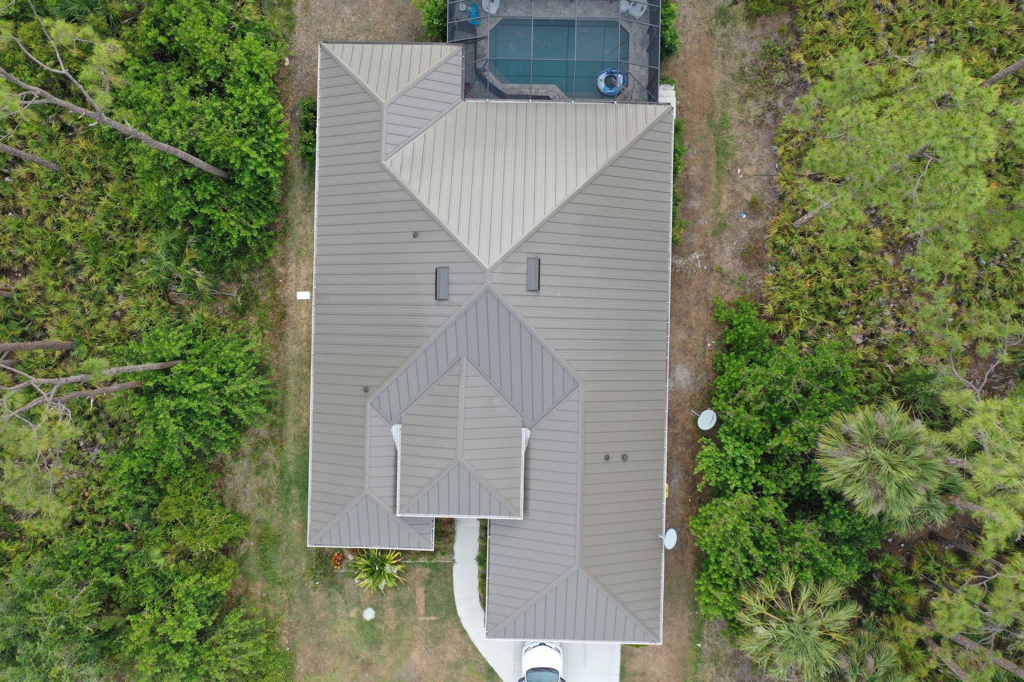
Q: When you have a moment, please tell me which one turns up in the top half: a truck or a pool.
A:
pool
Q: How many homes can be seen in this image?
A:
1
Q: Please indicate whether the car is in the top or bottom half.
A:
bottom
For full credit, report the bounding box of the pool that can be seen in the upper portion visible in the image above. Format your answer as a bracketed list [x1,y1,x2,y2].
[483,11,635,101]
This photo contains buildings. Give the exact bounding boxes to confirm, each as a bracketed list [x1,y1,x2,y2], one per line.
[307,40,674,644]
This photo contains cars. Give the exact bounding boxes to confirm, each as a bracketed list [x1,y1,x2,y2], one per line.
[518,641,567,682]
